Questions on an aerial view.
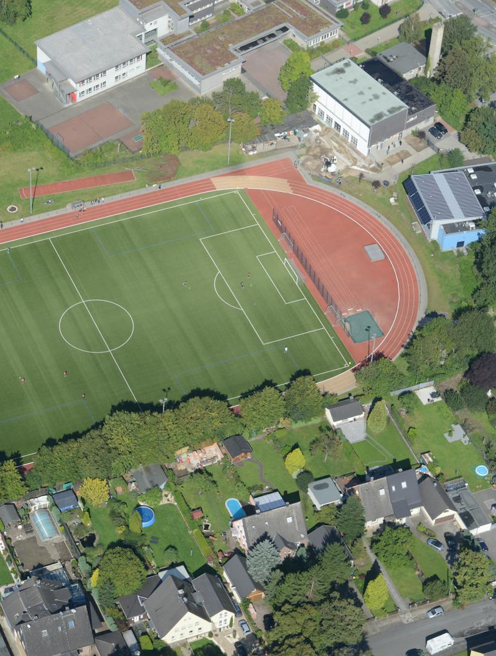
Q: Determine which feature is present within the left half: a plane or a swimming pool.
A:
swimming pool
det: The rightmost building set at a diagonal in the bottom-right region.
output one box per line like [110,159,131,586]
[443,477,493,538]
